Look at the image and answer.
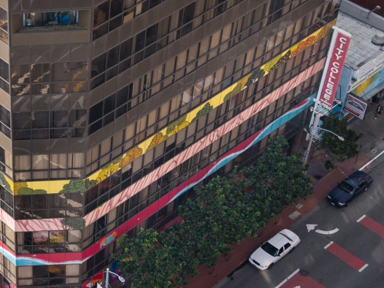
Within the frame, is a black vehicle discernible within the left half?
No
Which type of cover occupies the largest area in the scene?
buildings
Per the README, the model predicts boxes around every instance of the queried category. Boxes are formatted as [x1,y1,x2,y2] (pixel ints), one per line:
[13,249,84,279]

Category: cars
[329,170,379,211]
[251,228,305,273]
